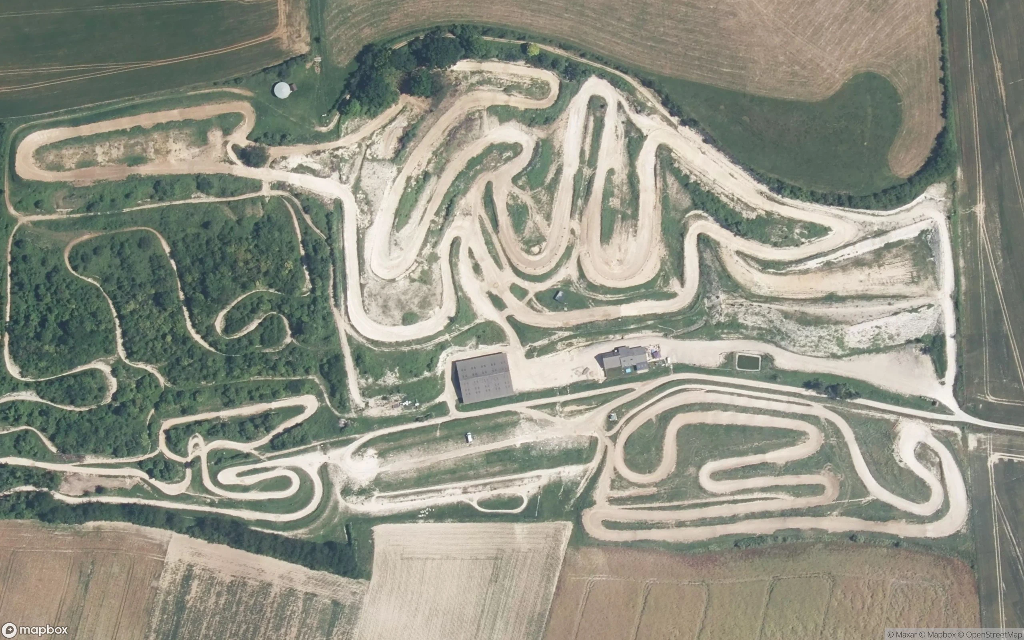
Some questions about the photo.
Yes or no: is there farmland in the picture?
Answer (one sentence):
Yes, the picture does contain farmland.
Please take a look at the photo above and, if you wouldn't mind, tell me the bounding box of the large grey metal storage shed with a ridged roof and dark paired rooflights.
[456,353,513,404]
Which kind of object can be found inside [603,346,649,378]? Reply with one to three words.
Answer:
house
